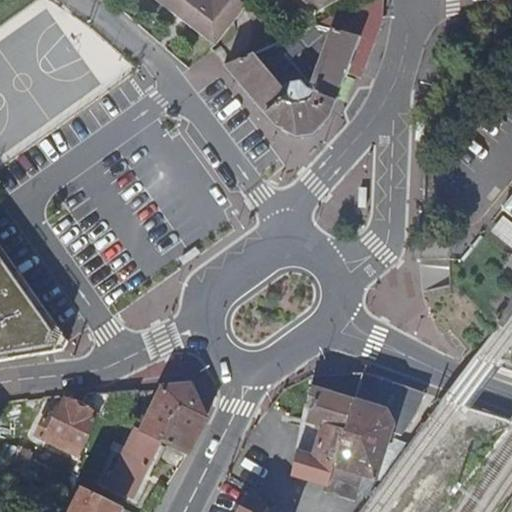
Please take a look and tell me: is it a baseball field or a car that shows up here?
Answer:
car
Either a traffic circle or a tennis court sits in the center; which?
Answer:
traffic circle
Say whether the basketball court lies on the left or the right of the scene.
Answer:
left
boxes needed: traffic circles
[226,266,322,352]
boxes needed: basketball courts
[0,0,134,164]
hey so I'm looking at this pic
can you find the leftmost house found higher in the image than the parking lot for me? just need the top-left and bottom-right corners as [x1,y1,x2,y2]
[156,0,244,43]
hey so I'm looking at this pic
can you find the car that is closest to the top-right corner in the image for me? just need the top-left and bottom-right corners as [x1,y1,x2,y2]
[483,124,502,138]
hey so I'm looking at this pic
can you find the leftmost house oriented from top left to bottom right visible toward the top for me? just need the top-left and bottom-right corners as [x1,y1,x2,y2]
[224,52,282,110]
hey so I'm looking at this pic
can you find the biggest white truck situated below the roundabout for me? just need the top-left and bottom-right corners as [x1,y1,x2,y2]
[239,457,268,478]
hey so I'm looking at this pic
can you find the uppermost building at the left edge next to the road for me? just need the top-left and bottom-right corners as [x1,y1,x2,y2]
[0,244,68,364]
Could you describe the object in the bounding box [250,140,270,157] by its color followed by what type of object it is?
gray car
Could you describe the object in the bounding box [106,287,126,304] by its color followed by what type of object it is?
white car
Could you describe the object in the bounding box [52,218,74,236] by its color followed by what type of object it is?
white car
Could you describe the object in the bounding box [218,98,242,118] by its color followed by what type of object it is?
white vehicle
